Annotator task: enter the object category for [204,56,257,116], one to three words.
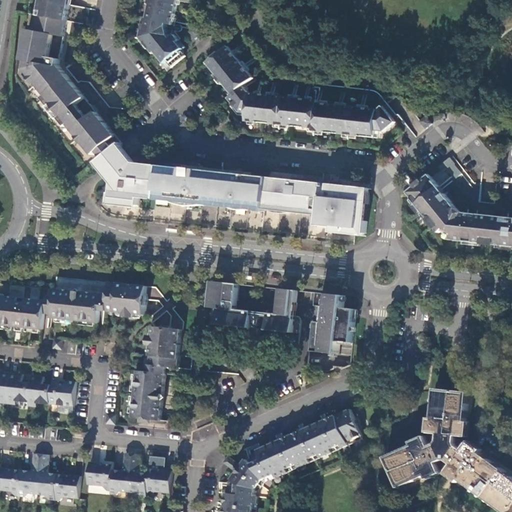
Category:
building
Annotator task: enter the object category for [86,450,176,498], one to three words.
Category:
house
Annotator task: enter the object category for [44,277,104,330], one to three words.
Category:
house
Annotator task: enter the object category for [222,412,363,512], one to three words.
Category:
building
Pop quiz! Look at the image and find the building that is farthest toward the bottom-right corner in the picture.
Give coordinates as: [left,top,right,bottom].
[380,388,512,512]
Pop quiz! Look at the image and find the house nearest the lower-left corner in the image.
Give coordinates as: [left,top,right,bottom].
[0,454,85,505]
